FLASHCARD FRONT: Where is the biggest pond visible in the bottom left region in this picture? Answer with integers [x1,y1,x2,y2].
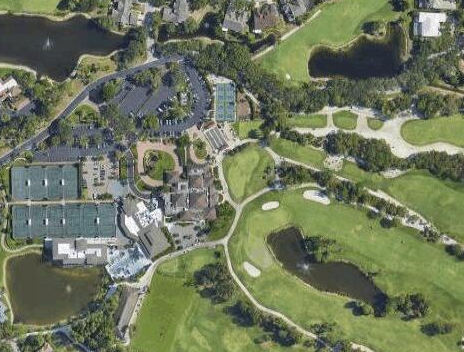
[5,252,106,326]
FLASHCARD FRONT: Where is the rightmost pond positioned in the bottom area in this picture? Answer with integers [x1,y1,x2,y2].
[266,227,387,310]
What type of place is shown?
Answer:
golf course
